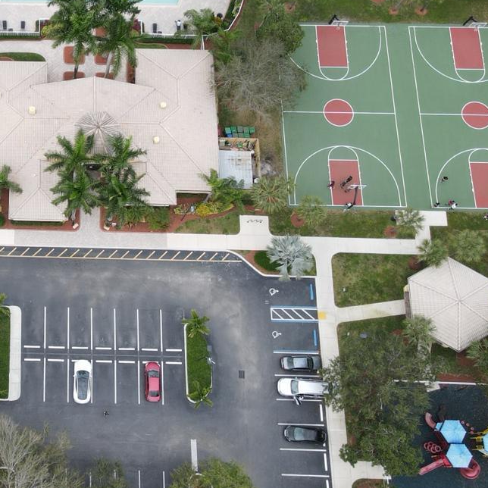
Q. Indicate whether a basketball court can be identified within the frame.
Yes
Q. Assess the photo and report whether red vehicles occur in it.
Yes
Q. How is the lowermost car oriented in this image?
horizontally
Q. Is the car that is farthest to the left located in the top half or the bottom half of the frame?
bottom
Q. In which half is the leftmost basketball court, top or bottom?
top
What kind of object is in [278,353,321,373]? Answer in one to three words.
car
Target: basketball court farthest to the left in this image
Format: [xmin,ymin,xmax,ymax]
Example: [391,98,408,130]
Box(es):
[270,20,419,212]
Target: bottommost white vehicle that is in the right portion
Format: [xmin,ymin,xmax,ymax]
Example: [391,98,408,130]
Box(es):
[275,378,325,406]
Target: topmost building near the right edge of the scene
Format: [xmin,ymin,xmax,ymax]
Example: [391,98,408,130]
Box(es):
[394,257,488,353]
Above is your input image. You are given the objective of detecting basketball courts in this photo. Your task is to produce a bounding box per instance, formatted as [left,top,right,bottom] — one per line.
[270,20,419,212]
[396,21,488,214]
